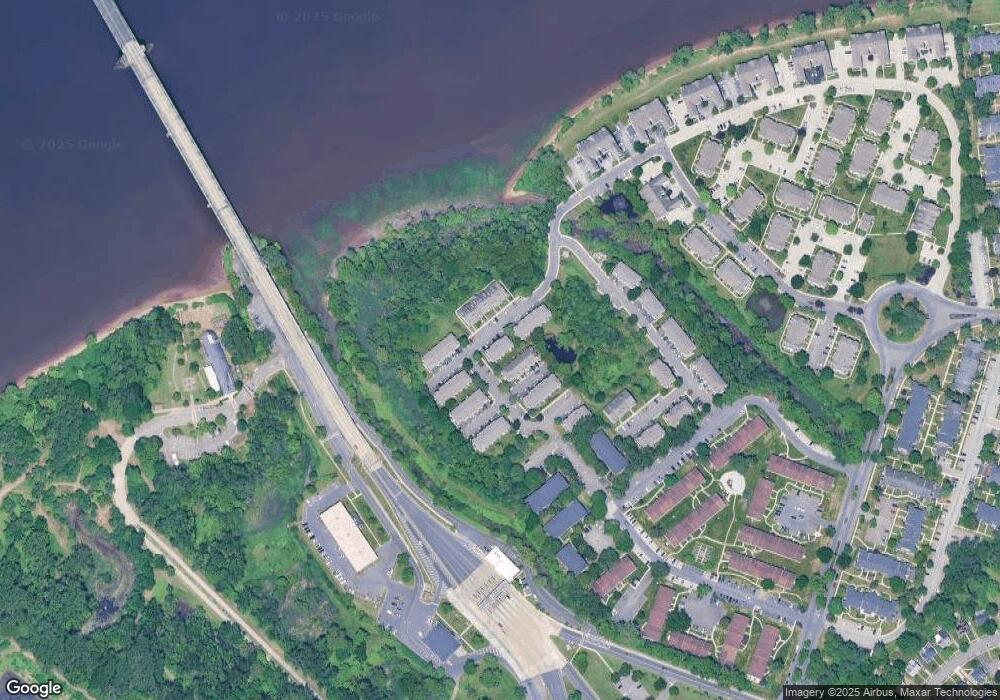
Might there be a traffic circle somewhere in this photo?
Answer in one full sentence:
Yes, there's a traffic circle here.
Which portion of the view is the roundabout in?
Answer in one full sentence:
Look in the right portion of the view to spot the roundabout.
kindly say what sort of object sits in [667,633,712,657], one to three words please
building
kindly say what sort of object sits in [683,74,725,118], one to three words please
building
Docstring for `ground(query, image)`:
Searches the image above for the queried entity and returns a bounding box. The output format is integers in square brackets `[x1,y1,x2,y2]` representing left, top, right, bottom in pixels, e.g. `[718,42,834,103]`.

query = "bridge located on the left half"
[93,0,381,471]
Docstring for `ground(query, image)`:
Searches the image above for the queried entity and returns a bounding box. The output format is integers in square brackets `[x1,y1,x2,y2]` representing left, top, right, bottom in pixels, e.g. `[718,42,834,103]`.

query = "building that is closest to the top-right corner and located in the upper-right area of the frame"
[906,22,944,62]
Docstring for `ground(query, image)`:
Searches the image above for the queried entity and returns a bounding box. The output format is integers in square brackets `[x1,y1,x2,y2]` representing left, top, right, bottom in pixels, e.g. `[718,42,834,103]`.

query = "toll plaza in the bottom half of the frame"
[447,558,566,681]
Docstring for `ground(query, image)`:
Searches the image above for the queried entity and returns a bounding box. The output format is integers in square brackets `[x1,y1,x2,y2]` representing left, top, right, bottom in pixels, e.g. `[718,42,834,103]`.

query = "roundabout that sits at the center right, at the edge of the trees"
[865,282,938,355]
